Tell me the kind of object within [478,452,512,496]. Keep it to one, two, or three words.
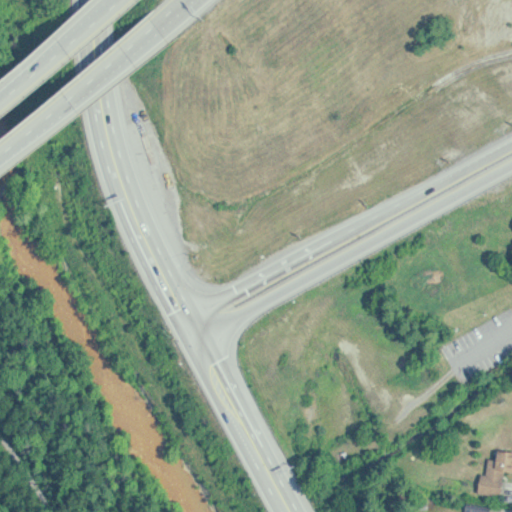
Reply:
house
